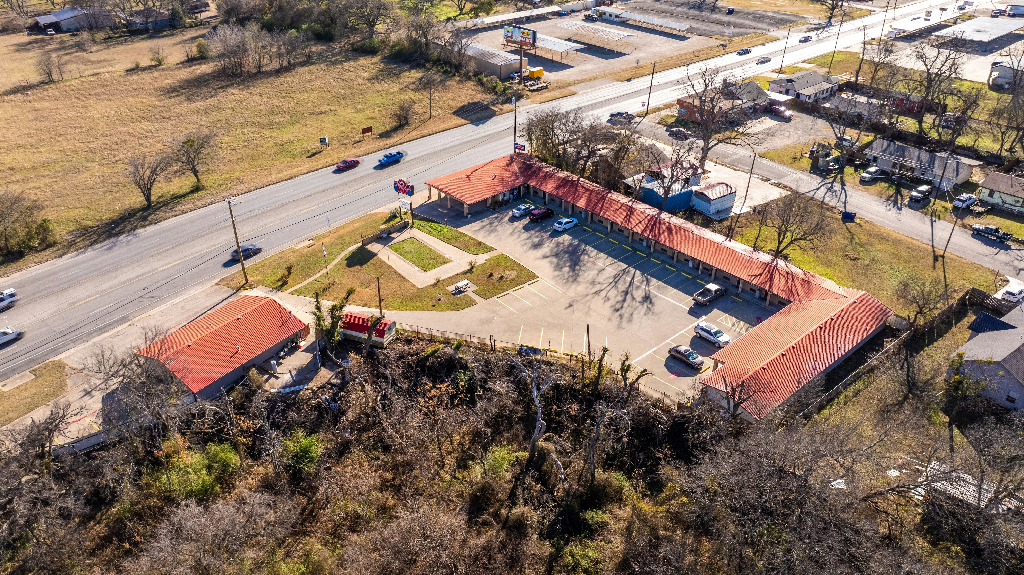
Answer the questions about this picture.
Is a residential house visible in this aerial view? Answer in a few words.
Yes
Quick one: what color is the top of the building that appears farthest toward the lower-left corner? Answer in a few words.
red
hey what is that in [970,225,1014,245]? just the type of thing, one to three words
vehicle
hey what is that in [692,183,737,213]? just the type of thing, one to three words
shed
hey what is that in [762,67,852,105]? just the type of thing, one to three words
house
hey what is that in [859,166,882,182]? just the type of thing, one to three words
car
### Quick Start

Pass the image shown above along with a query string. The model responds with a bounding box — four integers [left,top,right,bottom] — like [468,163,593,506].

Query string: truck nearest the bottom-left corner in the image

[0,327,26,348]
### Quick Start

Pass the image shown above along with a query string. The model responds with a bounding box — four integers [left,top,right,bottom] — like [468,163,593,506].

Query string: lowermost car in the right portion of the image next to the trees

[667,345,705,371]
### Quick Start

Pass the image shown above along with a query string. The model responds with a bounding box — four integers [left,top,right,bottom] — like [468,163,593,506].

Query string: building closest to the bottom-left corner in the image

[137,295,306,404]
